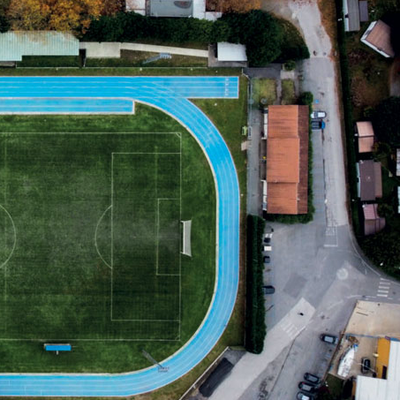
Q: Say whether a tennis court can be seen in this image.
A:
No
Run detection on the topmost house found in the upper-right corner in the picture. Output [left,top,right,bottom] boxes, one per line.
[343,0,368,31]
